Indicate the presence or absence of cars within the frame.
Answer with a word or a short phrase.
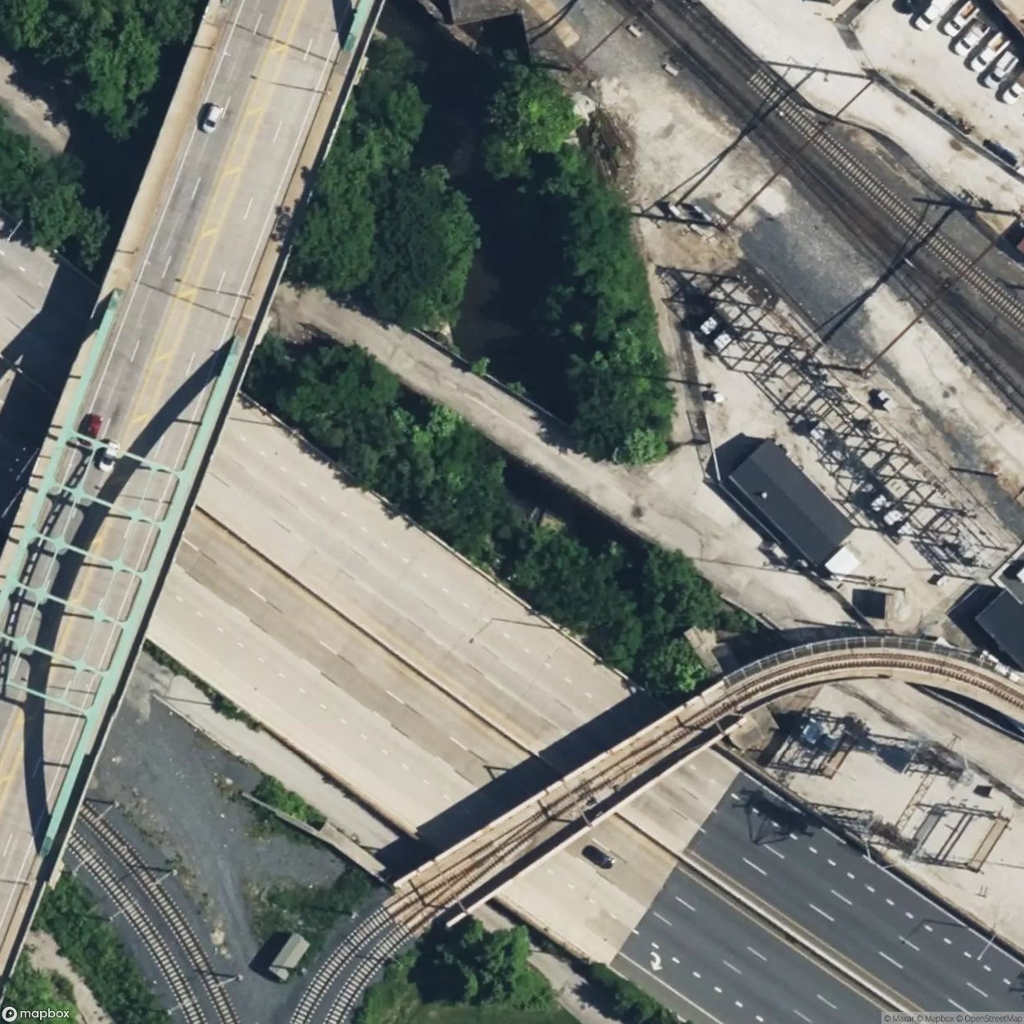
Yes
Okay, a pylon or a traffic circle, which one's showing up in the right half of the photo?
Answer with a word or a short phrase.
pylon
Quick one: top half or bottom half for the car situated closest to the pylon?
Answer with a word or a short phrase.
bottom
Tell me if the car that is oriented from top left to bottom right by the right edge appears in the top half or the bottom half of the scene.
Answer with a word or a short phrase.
top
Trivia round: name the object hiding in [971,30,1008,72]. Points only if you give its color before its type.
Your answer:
white truck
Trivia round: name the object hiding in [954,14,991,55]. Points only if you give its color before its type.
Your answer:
white truck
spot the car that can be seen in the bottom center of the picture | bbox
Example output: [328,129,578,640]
[583,843,617,871]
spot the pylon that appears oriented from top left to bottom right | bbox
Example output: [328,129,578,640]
[830,804,899,856]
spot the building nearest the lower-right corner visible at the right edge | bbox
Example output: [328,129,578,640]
[975,590,1024,668]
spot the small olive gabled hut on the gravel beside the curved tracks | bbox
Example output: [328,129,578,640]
[270,934,310,980]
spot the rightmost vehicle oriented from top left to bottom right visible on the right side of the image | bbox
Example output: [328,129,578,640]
[984,139,1017,167]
